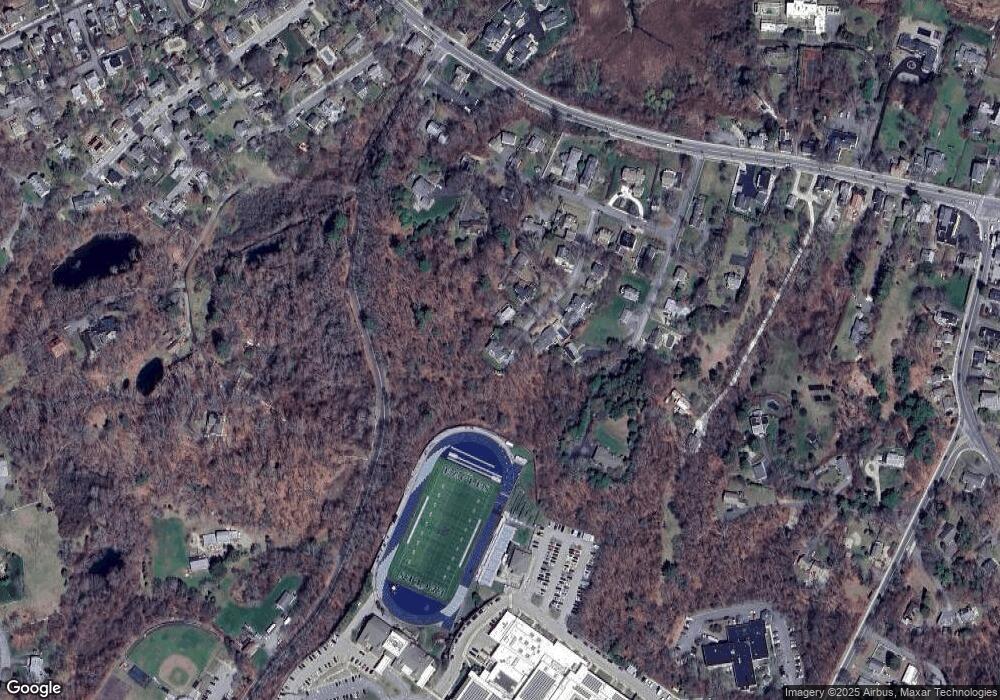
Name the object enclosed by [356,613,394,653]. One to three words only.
building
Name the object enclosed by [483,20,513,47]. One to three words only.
house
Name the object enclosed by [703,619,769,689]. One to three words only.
building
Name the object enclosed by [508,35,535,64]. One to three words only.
house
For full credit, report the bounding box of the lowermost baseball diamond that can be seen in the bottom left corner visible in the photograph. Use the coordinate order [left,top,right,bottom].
[126,621,222,692]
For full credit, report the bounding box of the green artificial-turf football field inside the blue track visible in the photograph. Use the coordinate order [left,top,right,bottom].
[390,461,499,600]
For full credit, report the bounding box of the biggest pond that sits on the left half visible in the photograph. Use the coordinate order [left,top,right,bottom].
[51,232,142,289]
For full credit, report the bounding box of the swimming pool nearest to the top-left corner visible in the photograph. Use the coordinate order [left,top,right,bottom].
[164,38,187,52]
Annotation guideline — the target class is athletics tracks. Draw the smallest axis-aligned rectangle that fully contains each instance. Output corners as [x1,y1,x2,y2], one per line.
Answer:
[367,429,521,628]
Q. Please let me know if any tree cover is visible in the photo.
Yes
